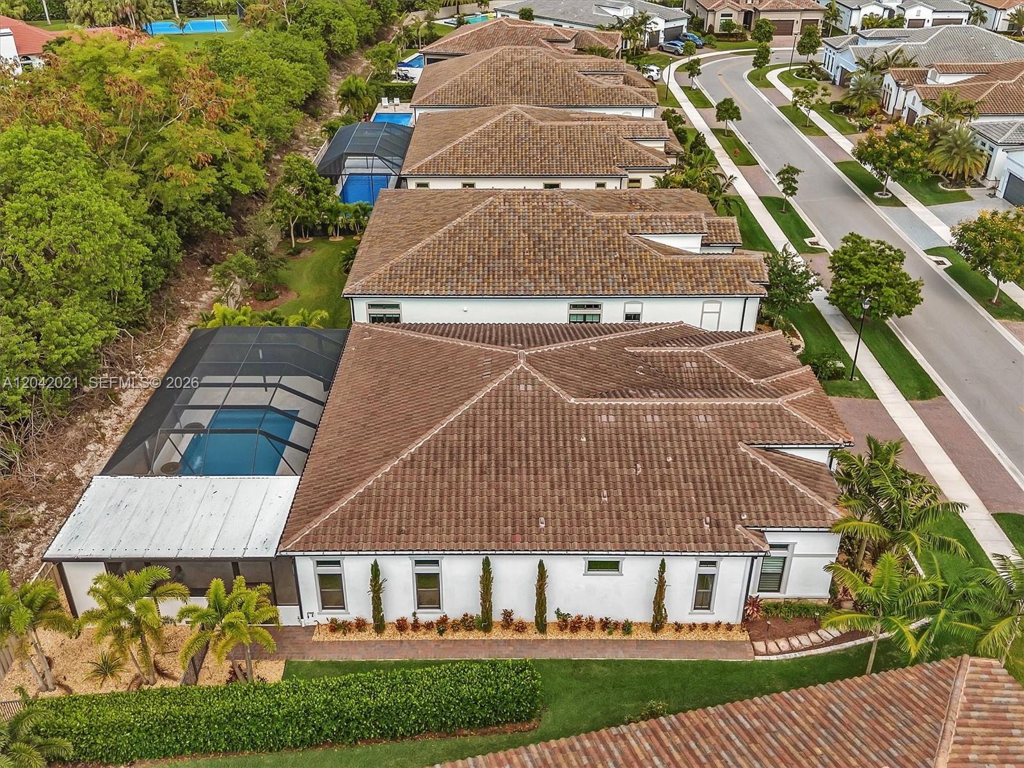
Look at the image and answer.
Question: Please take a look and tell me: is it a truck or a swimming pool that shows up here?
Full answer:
Visible in the photo is a swimming pool.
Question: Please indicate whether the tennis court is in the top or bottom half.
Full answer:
The tennis court is in the top half of the image.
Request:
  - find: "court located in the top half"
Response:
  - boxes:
[138,0,229,34]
